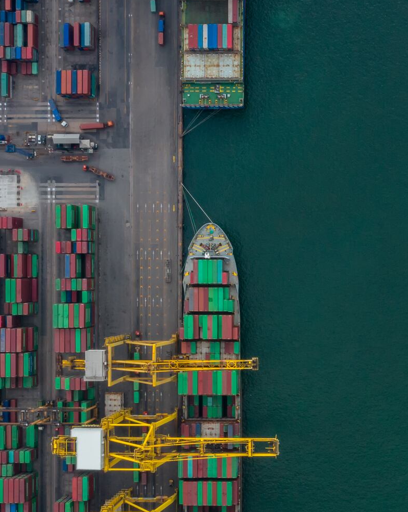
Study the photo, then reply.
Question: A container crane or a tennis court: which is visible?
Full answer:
I can see a container crane in this picture.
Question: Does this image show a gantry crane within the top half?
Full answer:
No, no gantry crane can be made out within the top half.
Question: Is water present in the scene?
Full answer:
Yes, there's water in this view.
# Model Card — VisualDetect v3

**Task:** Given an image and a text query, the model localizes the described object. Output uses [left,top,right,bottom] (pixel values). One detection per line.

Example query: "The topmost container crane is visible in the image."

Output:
[60,328,259,389]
